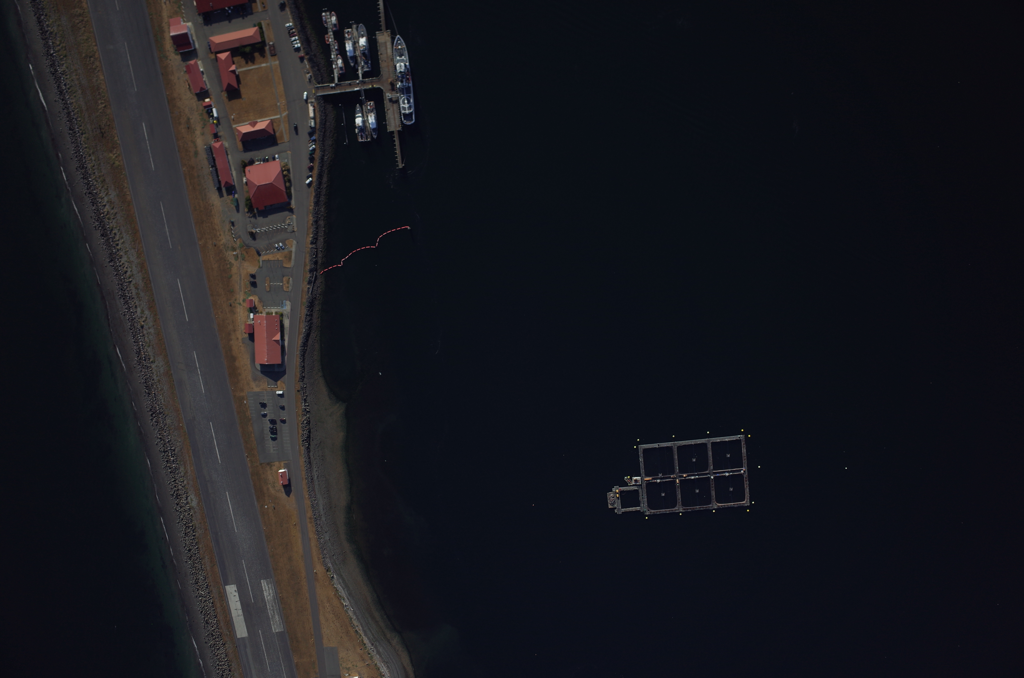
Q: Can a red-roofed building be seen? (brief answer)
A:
Yes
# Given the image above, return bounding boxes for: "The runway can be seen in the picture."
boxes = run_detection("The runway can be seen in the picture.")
[87,0,297,678]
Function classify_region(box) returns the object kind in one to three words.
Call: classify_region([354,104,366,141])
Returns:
boat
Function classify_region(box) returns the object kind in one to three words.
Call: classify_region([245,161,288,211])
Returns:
building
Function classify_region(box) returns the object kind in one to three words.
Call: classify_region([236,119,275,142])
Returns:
house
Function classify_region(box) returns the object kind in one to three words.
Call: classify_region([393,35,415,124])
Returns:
ship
